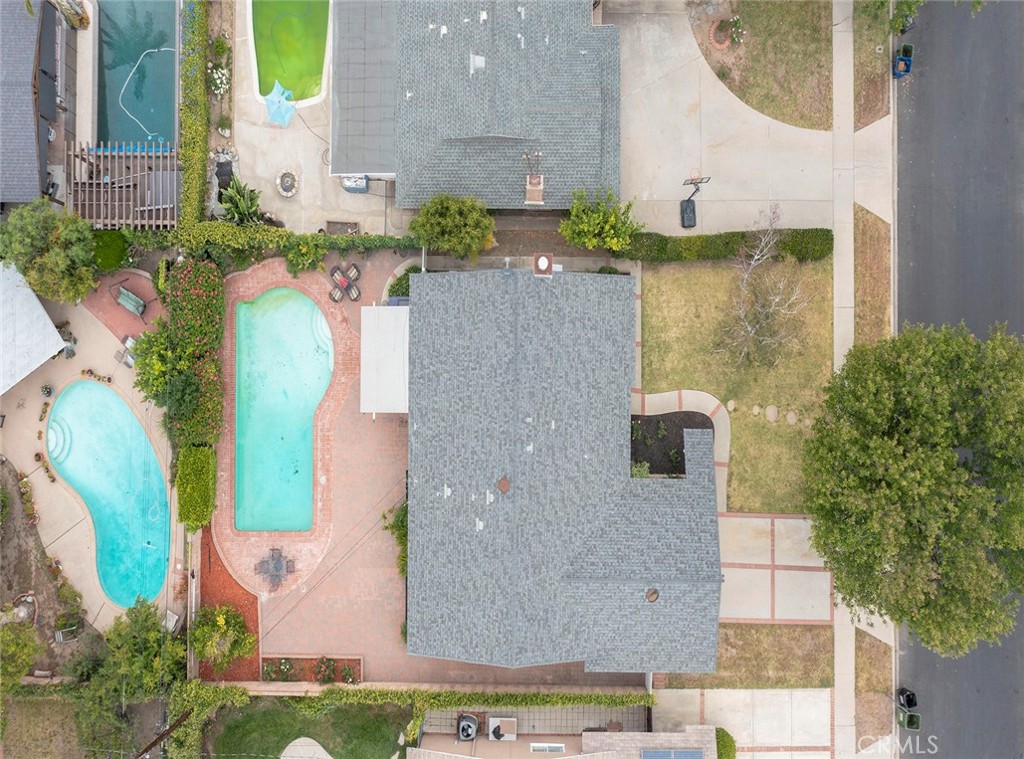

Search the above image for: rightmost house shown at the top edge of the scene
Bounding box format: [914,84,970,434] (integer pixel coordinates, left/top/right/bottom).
[329,0,620,214]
